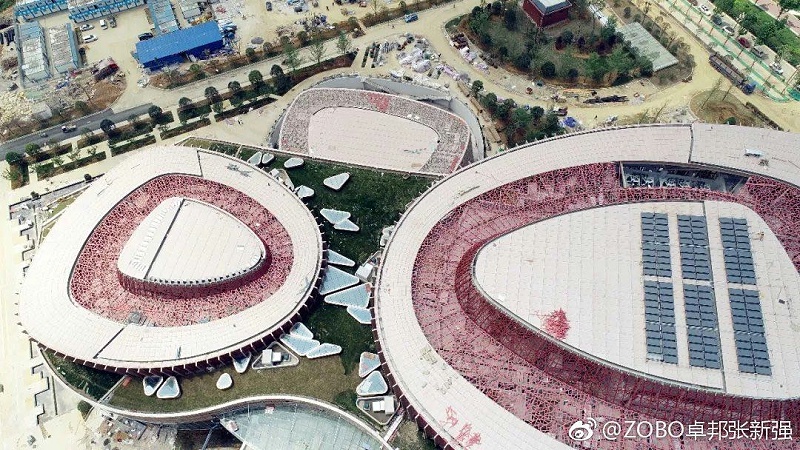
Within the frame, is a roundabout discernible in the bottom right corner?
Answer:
No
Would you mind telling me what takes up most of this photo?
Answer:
buildings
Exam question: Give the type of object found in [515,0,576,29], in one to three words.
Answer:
house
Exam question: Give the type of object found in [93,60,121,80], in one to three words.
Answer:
vehicle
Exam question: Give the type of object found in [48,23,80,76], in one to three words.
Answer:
shed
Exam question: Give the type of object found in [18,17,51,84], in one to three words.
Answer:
shed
